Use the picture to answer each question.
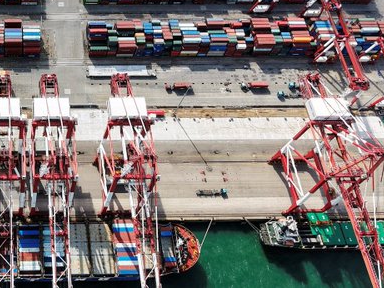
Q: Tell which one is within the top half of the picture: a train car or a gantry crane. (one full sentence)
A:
Visible within the top half of the picture is a gantry crane.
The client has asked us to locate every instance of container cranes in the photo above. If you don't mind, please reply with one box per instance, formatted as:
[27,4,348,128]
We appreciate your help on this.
[0,76,27,288]
[293,0,354,62]
[244,0,279,18]
[92,76,169,288]
[267,76,384,288]
[28,76,81,288]
[304,34,372,108]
